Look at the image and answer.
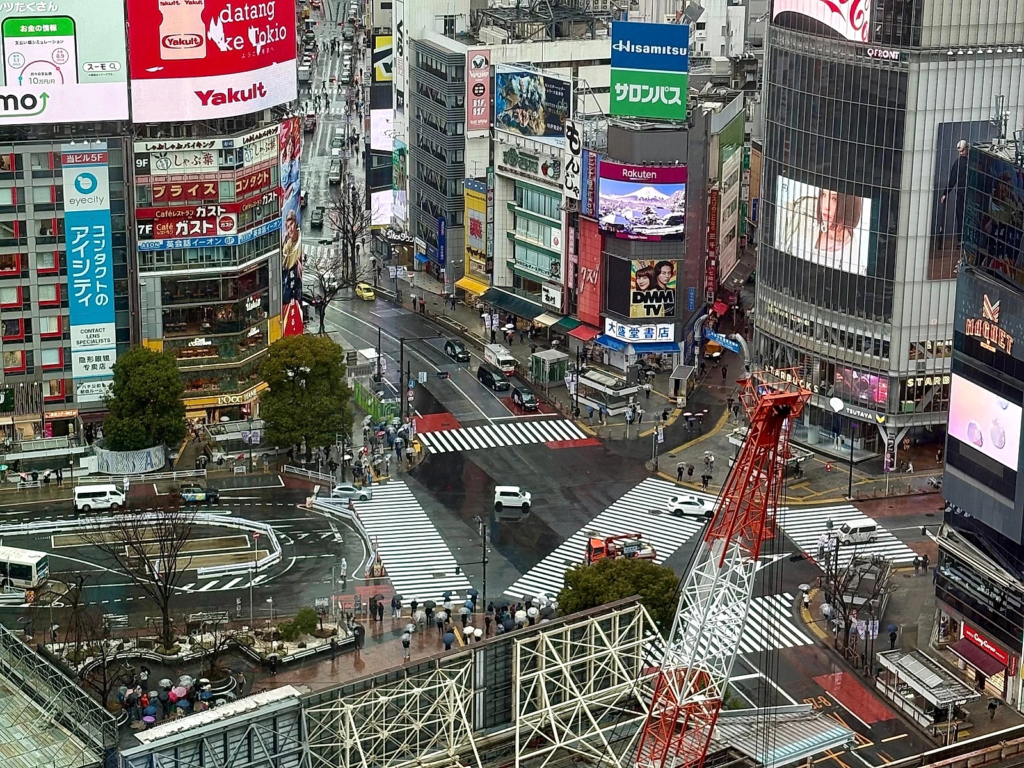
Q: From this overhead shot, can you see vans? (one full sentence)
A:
Yes, a van is visible in the scene.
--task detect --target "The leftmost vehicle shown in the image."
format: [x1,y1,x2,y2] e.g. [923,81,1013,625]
[0,541,51,589]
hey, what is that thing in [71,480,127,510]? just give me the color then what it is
white van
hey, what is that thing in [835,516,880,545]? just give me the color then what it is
white van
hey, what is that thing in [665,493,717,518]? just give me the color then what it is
white car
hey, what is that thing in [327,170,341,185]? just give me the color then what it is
gray car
